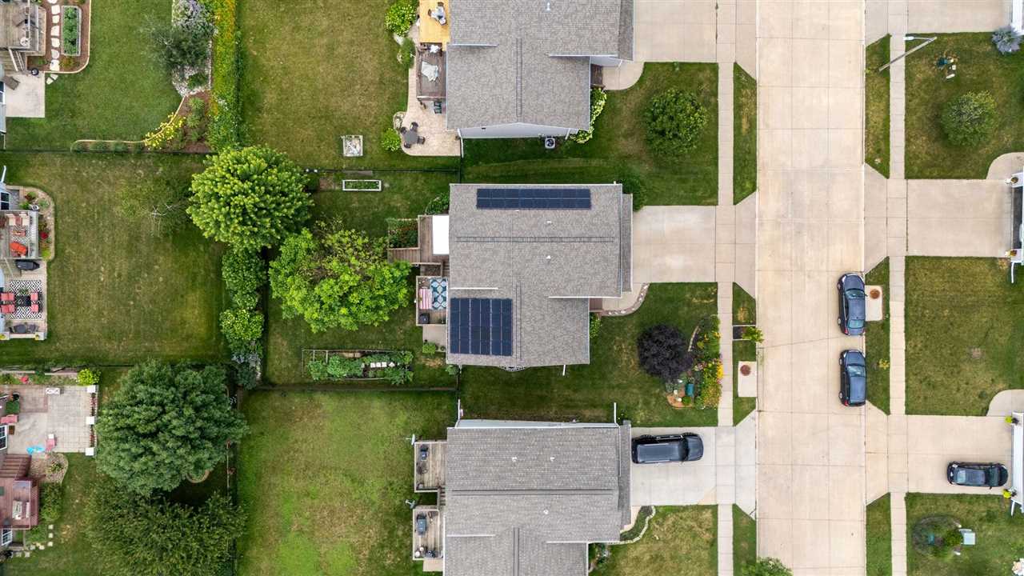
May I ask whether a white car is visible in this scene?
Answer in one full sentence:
No, I can't see a single white car in this photo.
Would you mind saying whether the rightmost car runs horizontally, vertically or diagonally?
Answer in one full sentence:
From this overhead view, the rightmost car appears to run horizontally.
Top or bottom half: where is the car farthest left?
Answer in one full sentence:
The car farthest left sits in the bottom half of the picture.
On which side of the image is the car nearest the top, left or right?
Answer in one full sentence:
It is on the right.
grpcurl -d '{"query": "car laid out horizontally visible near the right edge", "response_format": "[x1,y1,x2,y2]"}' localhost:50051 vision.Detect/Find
[947,462,1009,491]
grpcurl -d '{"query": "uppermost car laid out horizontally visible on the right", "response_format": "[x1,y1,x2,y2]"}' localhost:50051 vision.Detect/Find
[635,435,703,467]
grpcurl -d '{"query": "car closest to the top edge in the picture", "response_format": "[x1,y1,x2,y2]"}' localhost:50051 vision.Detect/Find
[839,274,872,336]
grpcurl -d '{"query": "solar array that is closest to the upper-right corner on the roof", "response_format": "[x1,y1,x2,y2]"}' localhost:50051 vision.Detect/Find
[477,189,591,209]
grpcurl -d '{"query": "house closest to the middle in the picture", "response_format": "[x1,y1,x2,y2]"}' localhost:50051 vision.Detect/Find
[447,180,632,376]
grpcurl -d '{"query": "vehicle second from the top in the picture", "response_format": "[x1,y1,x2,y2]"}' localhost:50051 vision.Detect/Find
[840,350,873,408]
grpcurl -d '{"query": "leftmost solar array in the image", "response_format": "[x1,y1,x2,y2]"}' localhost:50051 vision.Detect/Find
[451,298,512,356]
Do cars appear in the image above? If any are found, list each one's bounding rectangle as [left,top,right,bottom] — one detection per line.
[635,435,703,467]
[840,350,873,408]
[839,274,872,336]
[947,462,1009,491]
